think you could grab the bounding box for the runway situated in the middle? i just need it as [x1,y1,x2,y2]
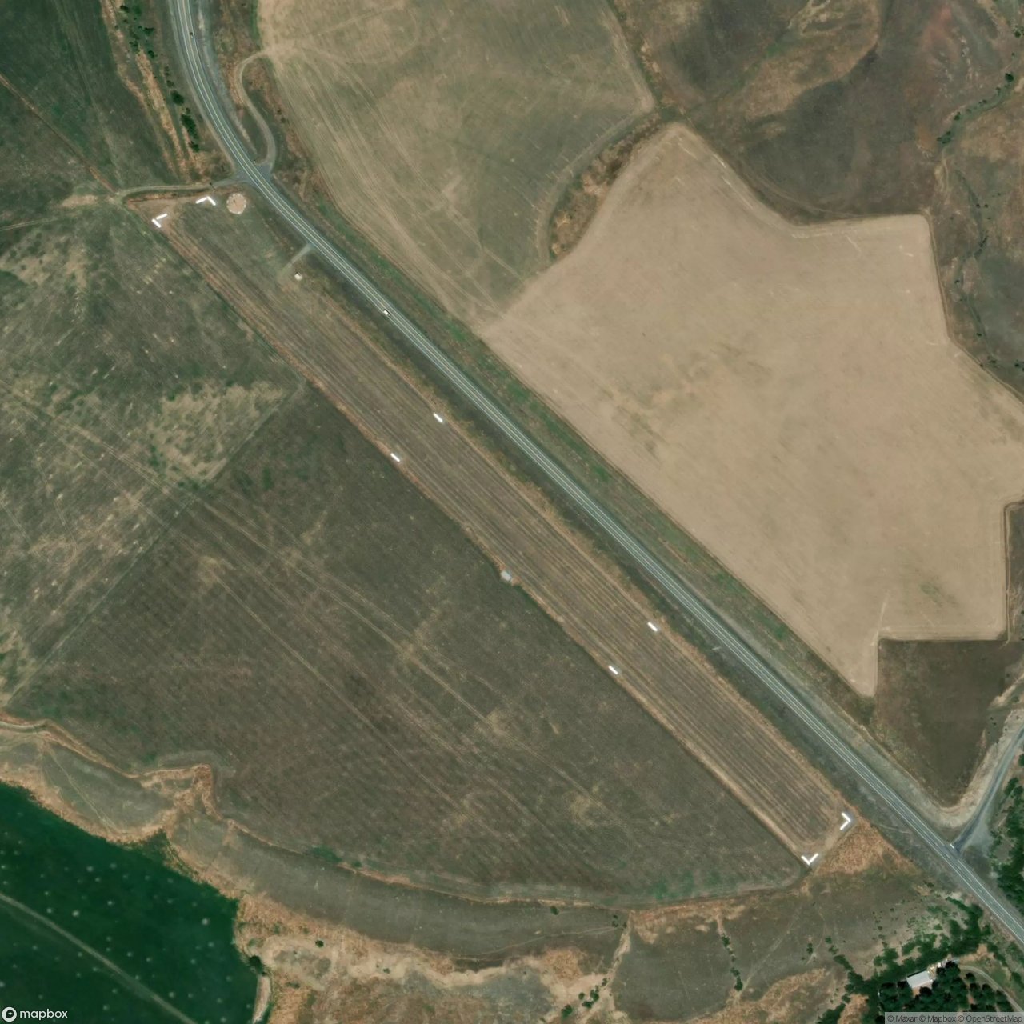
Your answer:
[128,191,856,869]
